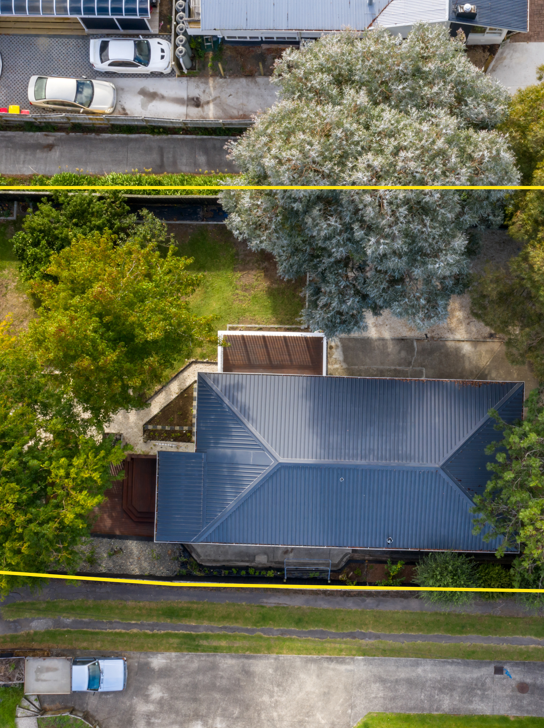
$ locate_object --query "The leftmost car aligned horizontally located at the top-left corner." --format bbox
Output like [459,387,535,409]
[26,73,118,116]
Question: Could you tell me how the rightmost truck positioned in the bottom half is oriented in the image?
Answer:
from left to right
